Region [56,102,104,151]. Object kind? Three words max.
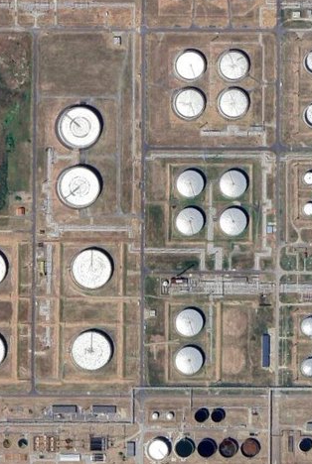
storage tank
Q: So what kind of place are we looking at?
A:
industrial area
